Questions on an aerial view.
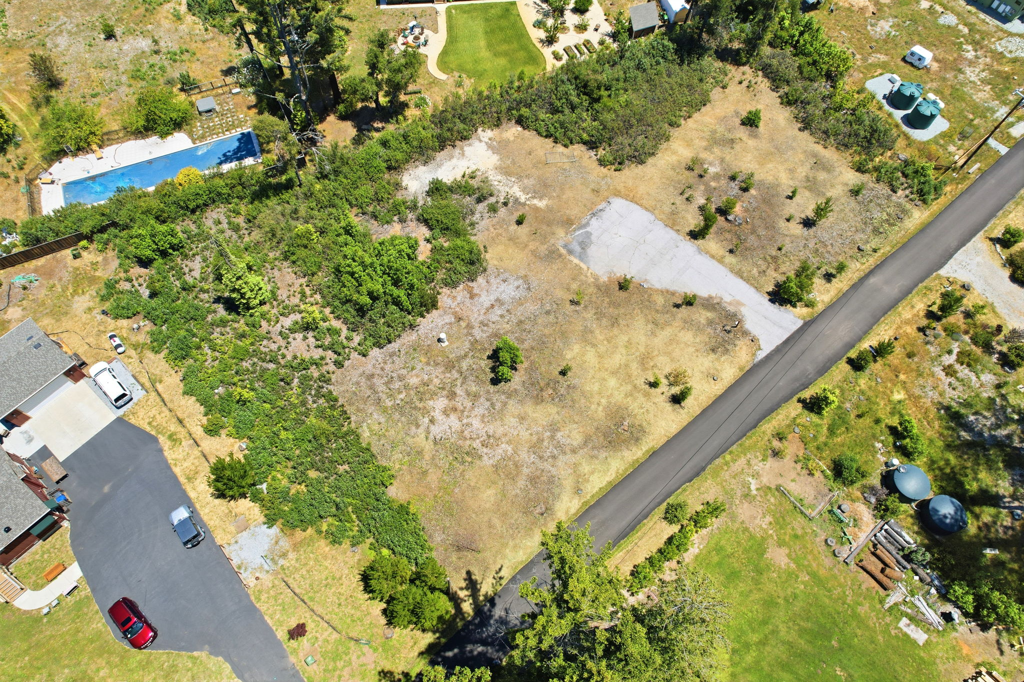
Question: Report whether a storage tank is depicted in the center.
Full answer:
No, no storage tank is visible in the center.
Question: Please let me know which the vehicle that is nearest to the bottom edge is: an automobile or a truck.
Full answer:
What you see as the vehicle that is nearest to the bottom edge is an automobile.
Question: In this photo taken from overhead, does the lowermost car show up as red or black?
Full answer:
The lowermost car is red.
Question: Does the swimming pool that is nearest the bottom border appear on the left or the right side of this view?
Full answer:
You can find the swimming pool that is nearest the bottom border on the left side of the picture.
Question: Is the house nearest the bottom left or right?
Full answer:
The house nearest the bottom appears in the left half of the scene.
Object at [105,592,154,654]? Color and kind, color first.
red car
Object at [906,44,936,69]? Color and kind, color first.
white camper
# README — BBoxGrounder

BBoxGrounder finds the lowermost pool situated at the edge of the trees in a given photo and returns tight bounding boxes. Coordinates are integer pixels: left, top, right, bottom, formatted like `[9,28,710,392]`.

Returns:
[60,128,258,207]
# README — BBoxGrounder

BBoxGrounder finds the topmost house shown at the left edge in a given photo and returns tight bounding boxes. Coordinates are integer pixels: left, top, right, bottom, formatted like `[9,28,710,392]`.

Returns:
[0,320,83,441]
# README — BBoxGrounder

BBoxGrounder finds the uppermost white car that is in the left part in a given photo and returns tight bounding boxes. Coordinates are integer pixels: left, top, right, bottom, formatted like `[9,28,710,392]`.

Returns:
[89,358,132,408]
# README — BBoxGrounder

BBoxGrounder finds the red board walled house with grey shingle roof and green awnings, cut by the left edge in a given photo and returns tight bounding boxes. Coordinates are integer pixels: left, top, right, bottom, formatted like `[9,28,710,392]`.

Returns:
[0,447,70,569]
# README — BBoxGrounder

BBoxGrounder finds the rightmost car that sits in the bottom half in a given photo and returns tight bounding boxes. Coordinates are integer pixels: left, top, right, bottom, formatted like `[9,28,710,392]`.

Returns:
[166,500,205,551]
